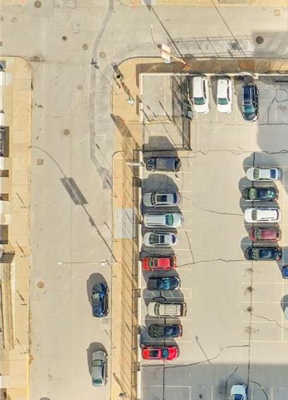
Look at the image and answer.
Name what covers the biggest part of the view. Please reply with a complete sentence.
Most of the picture is covered by paved ground.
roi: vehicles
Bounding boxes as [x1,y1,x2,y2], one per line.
[241,84,260,120]
[145,231,178,247]
[146,275,182,290]
[90,350,109,385]
[148,323,182,338]
[143,346,178,361]
[150,301,185,317]
[142,254,177,270]
[247,166,283,181]
[215,76,235,113]
[247,206,280,222]
[191,75,211,113]
[90,282,110,317]
[145,212,181,227]
[246,245,282,261]
[145,155,181,172]
[250,227,281,241]
[230,384,247,400]
[243,185,279,201]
